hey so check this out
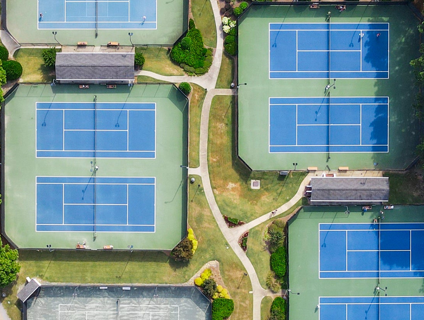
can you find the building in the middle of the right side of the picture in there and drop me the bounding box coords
[308,171,390,203]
